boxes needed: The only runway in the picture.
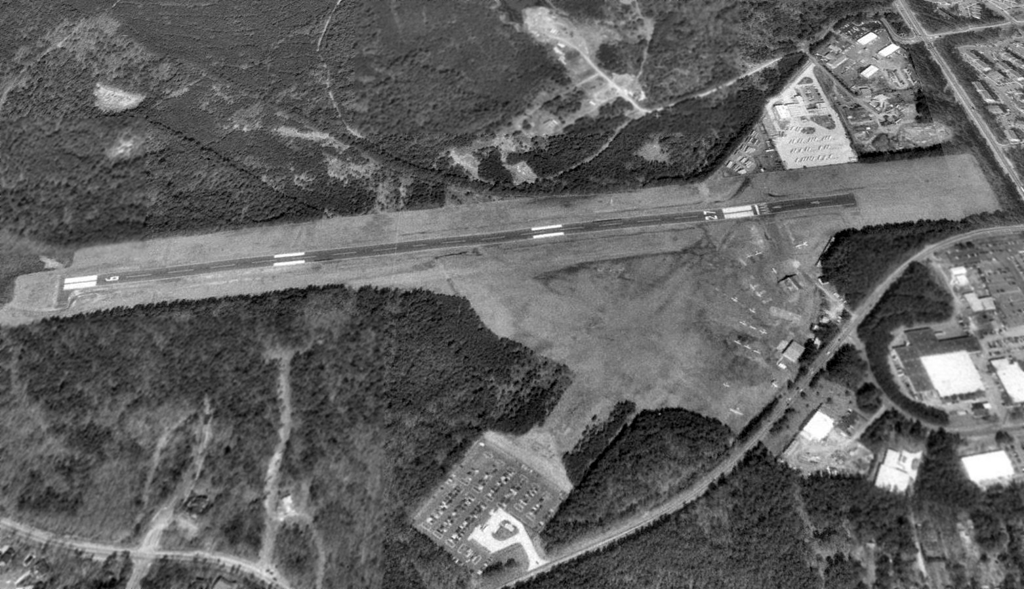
[59,193,854,305]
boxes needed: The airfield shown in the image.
[0,154,1002,490]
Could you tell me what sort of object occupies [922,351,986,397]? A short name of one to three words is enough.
building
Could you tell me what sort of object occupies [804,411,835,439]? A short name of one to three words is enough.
building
